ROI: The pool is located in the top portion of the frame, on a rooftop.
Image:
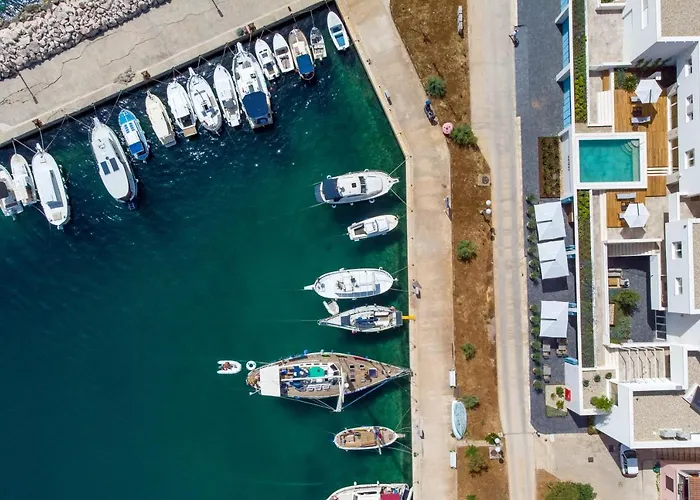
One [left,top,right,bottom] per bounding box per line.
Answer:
[561,133,648,200]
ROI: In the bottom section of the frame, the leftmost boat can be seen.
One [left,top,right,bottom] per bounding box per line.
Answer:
[217,360,243,374]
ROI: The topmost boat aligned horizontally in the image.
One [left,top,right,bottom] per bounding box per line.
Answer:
[313,168,401,207]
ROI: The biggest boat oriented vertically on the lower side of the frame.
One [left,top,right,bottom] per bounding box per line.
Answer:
[453,402,469,443]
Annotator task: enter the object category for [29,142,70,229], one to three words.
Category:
boat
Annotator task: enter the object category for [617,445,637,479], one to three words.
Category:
car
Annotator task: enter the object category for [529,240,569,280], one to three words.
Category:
umbrella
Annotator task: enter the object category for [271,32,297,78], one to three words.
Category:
boat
